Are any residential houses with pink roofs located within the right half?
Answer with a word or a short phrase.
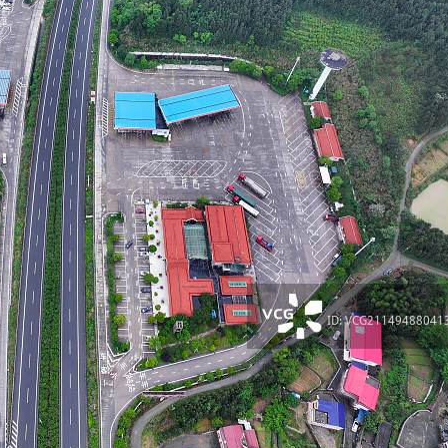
Yes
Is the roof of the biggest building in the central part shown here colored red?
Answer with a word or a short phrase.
Yes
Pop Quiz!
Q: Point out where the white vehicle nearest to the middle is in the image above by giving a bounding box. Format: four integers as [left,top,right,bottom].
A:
[231,195,261,218]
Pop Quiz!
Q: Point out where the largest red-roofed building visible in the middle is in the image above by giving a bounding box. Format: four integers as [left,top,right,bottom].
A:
[160,202,259,327]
